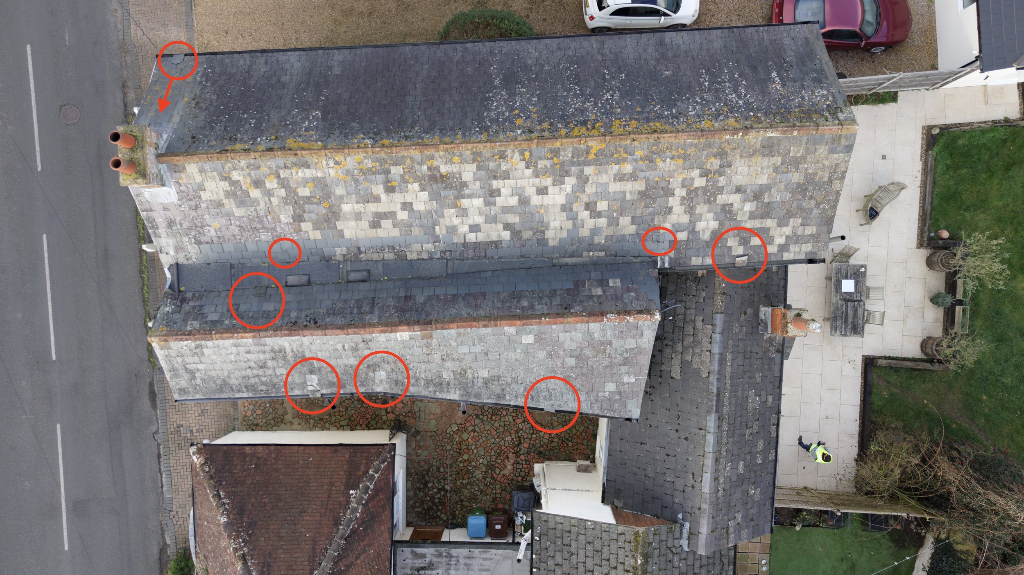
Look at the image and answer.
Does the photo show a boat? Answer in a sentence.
No, I can see no boat in this picture.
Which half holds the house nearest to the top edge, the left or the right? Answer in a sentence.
It is on the right.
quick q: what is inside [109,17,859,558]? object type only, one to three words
house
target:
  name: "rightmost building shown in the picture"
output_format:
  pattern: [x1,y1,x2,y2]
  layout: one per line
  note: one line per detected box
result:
[940,0,1024,104]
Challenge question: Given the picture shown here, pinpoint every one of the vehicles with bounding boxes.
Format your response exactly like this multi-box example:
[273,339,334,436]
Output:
[586,0,702,28]
[773,0,914,52]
